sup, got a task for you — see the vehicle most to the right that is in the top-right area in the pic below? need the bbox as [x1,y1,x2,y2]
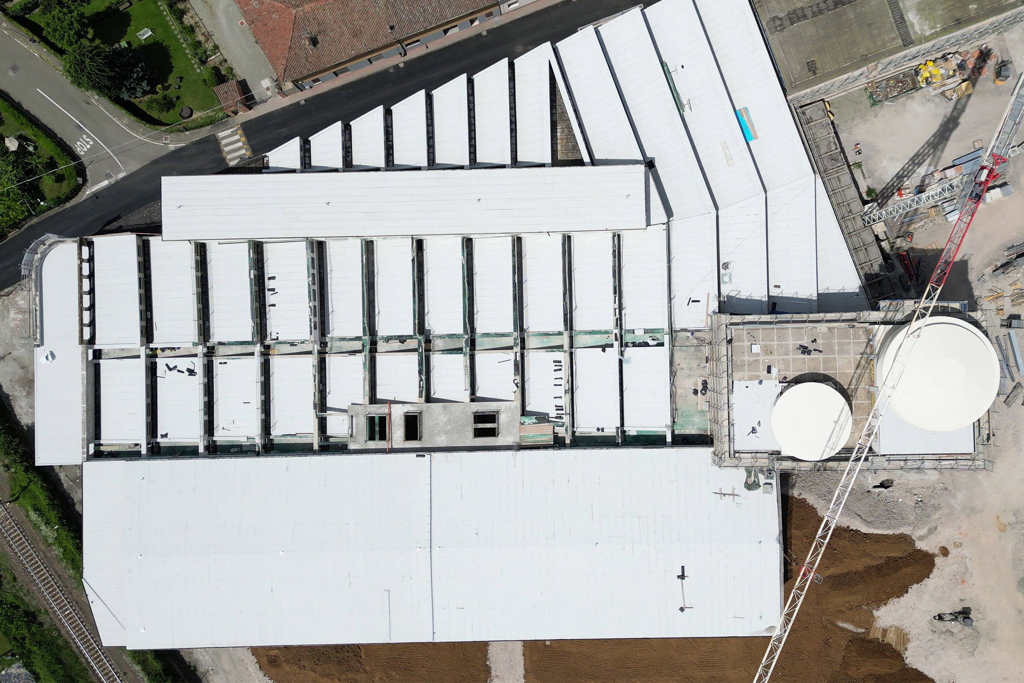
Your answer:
[995,52,1020,84]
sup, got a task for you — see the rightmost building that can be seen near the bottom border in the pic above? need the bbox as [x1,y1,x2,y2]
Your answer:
[81,445,780,652]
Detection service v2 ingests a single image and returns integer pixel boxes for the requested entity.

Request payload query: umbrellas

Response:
[4,137,23,151]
